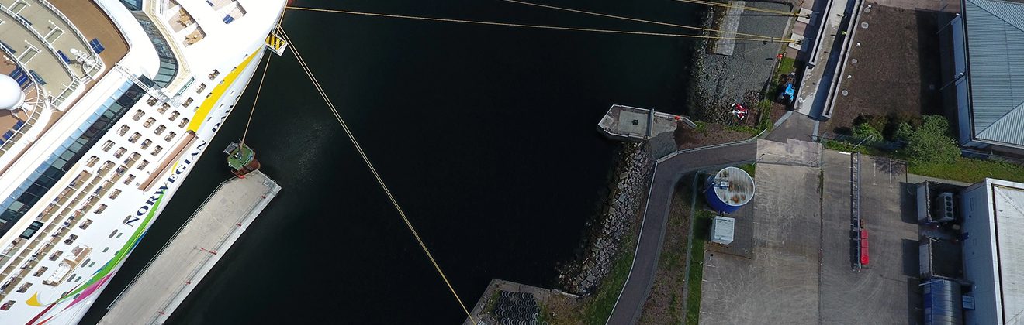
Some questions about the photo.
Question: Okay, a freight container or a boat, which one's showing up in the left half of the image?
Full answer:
Looking in the left half of the image, you will find a boat.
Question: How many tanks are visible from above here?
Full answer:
The picture shows just 1 tank.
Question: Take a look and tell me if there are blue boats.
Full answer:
No, this view has no blue boat in it.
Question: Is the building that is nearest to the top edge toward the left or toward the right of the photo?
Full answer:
The building that is nearest to the top edge is on the right side of the image.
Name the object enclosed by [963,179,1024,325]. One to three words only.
building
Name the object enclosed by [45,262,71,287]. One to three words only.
boat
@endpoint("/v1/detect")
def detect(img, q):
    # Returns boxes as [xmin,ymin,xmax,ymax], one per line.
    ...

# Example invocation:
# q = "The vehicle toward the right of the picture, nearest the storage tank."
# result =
[778,71,801,103]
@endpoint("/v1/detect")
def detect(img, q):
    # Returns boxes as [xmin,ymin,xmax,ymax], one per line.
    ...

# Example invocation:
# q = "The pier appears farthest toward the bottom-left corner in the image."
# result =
[89,169,280,325]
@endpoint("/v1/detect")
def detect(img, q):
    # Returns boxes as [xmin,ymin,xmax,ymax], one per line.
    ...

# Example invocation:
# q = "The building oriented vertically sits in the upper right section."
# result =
[945,0,1024,162]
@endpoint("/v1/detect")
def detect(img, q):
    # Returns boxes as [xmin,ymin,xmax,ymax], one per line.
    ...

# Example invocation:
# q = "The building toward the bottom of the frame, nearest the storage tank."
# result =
[711,218,735,244]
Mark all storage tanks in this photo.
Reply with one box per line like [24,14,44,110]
[701,167,754,217]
